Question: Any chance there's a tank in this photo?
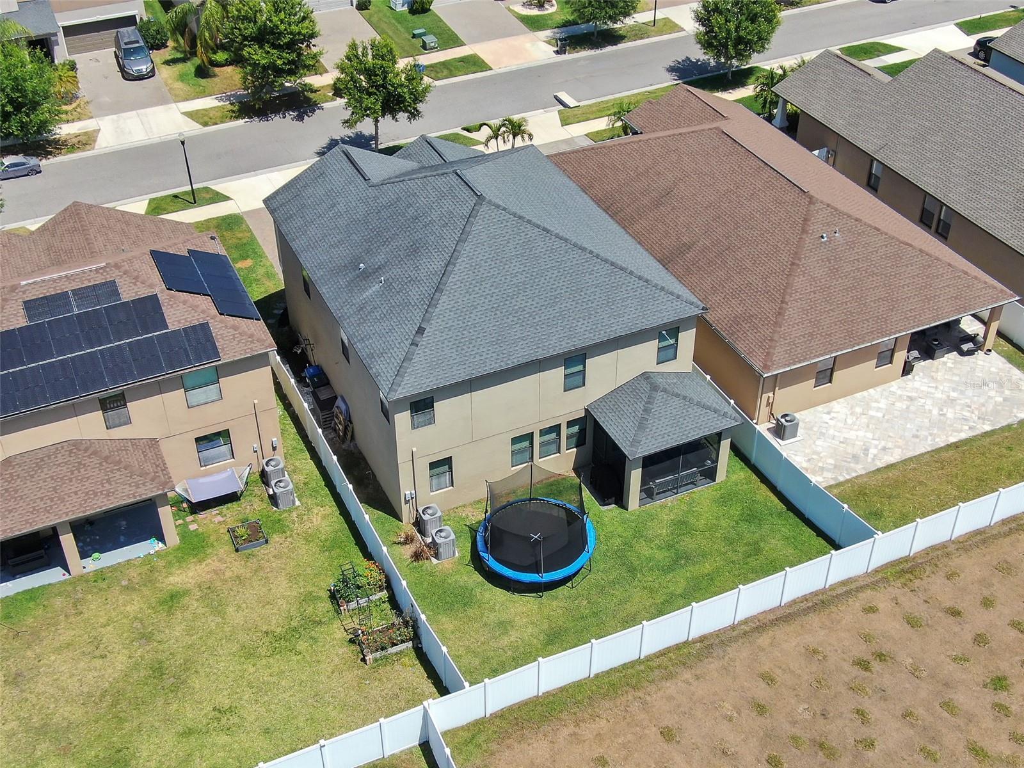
No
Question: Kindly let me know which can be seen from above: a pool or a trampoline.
trampoline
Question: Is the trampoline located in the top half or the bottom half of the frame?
bottom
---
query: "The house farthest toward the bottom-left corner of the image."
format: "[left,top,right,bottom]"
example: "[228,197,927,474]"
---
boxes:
[0,202,279,603]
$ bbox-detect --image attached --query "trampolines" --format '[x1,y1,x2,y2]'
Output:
[475,461,601,603]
